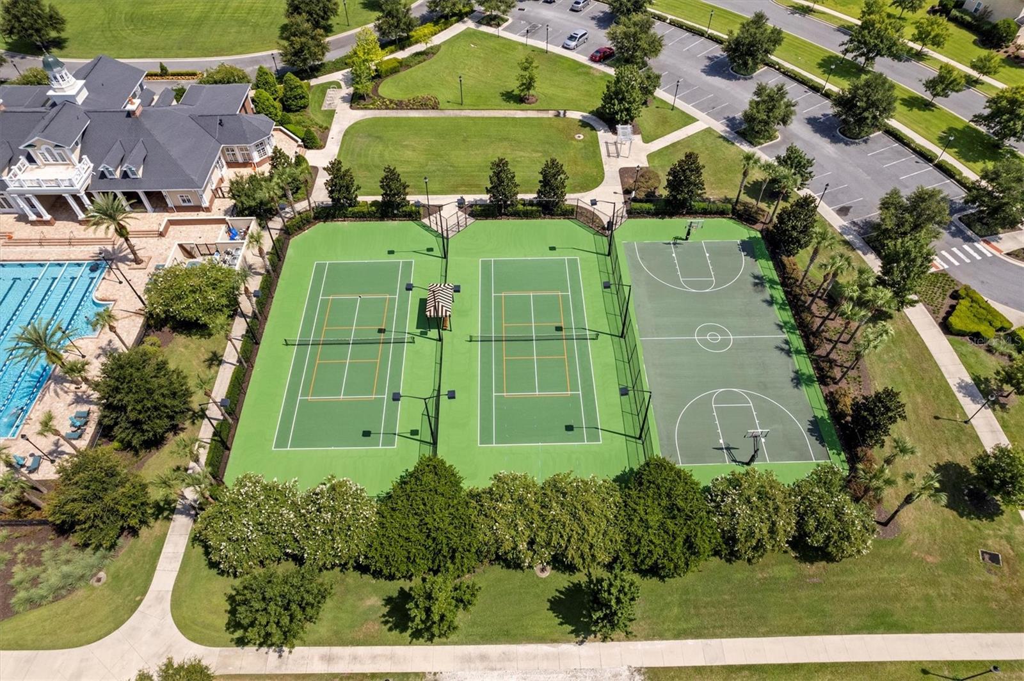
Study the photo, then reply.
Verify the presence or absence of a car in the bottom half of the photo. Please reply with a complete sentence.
No, there is no car in the bottom half of the photo.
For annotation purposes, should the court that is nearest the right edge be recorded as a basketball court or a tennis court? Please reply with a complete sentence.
From above, the court that is nearest the right edge can be identified as a basketball court.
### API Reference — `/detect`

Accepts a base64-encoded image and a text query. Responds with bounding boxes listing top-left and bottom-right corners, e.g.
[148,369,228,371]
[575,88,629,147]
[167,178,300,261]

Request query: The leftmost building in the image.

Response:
[0,35,278,219]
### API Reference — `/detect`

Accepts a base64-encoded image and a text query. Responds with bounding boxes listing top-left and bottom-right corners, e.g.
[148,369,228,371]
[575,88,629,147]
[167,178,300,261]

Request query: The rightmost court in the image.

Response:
[607,218,849,491]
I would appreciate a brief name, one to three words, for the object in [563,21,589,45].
car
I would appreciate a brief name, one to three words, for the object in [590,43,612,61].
car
